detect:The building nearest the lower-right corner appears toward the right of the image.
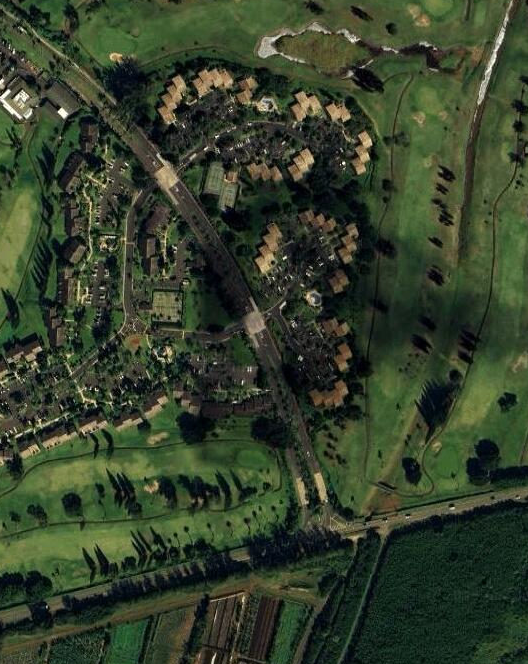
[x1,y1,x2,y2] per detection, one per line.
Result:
[308,379,348,408]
